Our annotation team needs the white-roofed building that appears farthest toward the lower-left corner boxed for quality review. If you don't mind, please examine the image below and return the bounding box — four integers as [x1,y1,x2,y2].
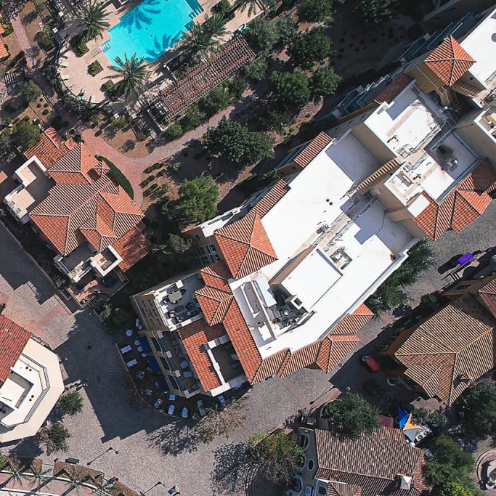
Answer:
[0,338,65,443]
